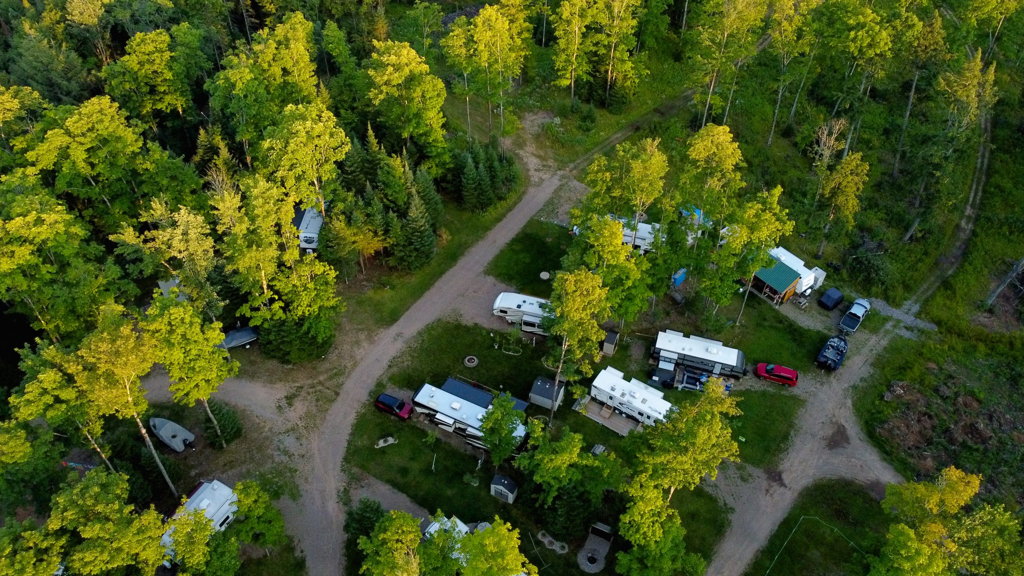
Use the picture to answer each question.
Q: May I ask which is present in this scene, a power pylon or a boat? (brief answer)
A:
boat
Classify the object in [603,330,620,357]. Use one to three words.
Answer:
shed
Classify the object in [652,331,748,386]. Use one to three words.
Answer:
trailer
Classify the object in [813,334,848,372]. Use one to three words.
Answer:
boat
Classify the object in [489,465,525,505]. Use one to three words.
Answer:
shed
